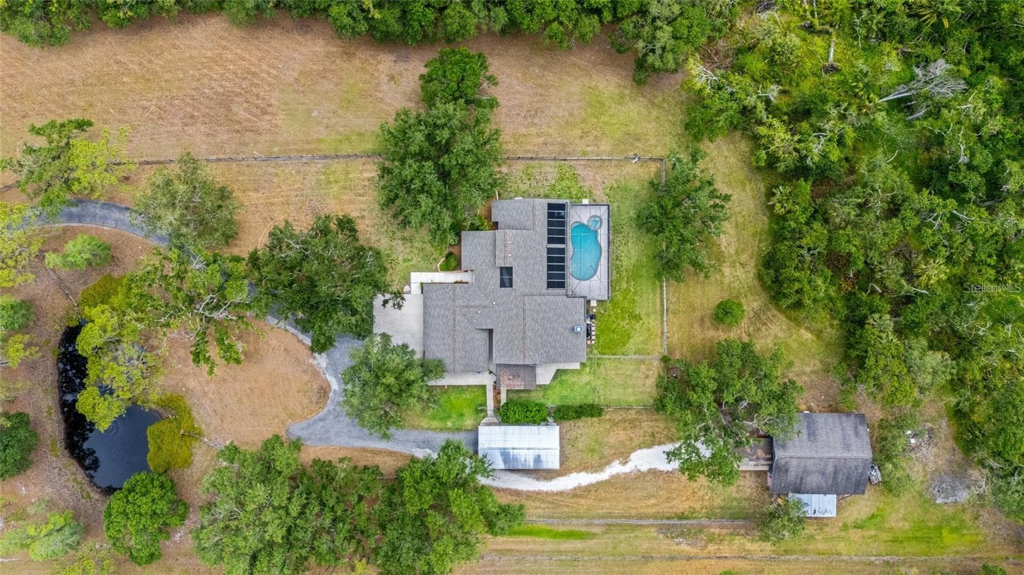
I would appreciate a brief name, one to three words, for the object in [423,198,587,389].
house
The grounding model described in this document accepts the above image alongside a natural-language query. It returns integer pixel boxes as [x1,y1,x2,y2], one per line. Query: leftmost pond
[60,319,172,490]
